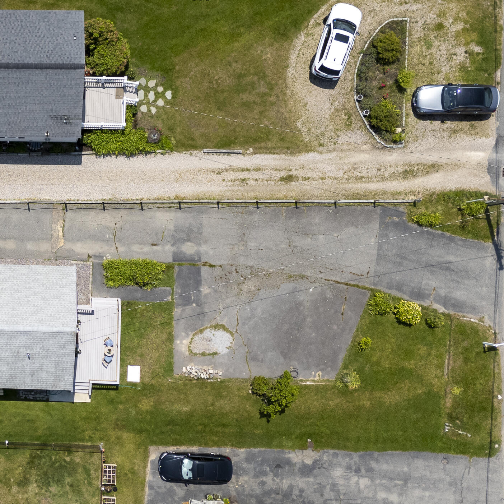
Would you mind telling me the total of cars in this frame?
3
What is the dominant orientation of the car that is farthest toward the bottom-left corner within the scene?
from side to side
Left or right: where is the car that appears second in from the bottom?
right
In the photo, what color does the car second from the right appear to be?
white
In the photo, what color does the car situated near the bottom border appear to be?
black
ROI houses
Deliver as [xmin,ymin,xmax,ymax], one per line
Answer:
[0,9,85,143]
[0,265,76,391]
